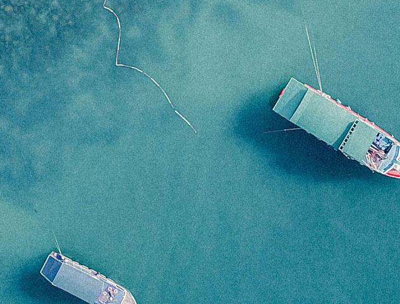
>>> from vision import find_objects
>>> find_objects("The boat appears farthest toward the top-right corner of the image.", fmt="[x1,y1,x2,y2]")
[272,78,400,176]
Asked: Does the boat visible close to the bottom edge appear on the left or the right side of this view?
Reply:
left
